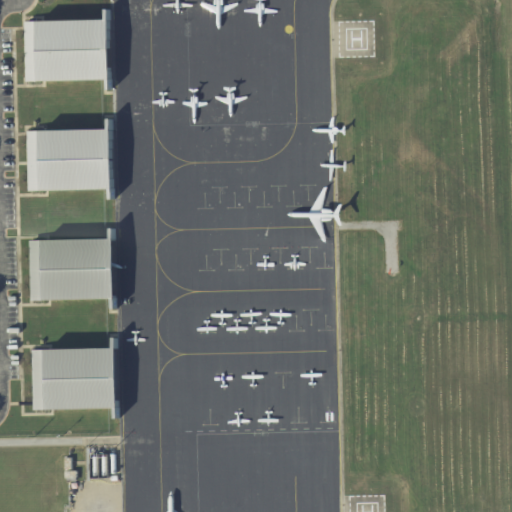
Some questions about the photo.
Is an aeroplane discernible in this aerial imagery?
Yes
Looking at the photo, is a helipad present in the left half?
No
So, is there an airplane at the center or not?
Yes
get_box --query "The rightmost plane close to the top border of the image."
[244,0,277,28]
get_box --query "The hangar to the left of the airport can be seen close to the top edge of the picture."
[24,8,115,90]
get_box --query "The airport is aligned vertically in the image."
[112,0,346,512]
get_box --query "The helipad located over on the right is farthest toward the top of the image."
[336,20,376,58]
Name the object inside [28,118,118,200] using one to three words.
hangar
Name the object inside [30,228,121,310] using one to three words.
hangar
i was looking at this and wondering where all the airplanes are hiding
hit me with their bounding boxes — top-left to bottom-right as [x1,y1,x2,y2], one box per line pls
[215,86,248,116]
[241,310,262,324]
[197,318,218,334]
[214,372,232,388]
[301,370,323,386]
[288,187,342,243]
[227,318,248,334]
[244,0,277,28]
[242,372,264,387]
[182,88,208,124]
[228,411,250,428]
[152,92,175,108]
[212,310,234,326]
[258,410,280,427]
[314,117,344,144]
[126,330,146,346]
[270,310,292,326]
[257,256,276,270]
[256,318,278,334]
[320,150,346,182]
[163,0,194,14]
[199,0,237,30]
[284,254,307,270]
